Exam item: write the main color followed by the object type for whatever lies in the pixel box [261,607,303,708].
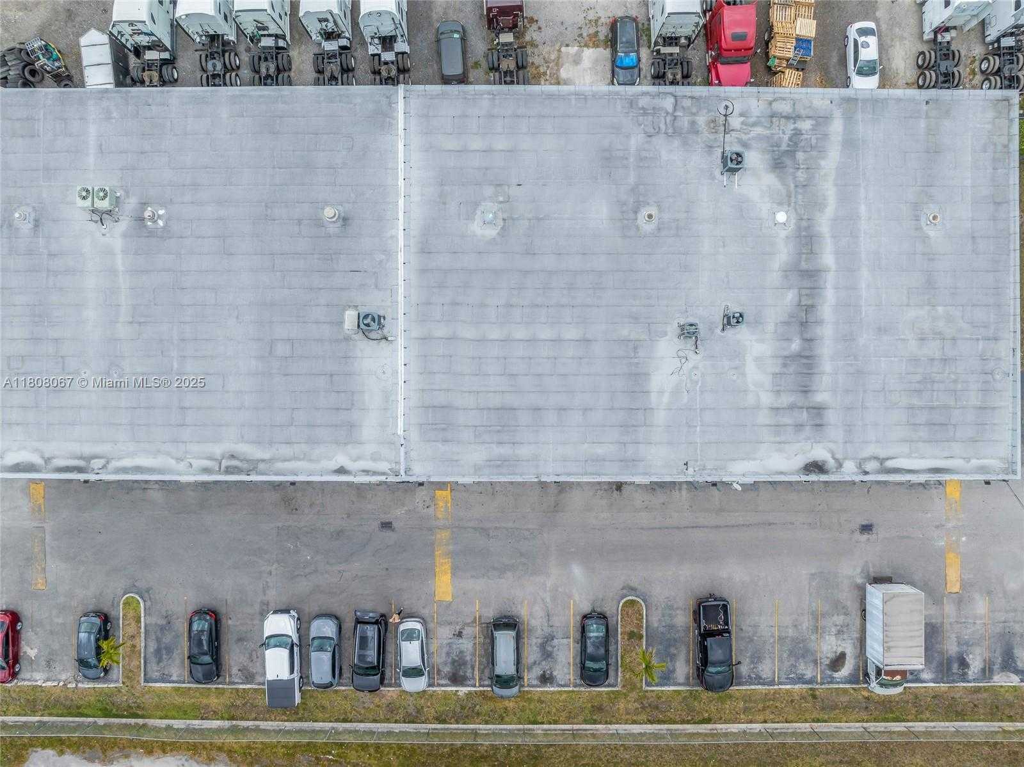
white truck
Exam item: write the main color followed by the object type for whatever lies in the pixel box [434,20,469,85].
gray car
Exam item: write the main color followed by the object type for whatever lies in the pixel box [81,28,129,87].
white trailer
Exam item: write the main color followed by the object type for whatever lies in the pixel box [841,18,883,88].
white car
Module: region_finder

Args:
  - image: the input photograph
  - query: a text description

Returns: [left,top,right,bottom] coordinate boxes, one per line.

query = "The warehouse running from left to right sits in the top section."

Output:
[0,82,1021,483]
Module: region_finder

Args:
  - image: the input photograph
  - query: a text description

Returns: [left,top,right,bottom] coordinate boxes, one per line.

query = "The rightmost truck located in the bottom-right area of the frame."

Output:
[860,571,925,693]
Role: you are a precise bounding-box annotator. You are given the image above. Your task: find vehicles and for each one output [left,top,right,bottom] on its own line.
[914,0,993,88]
[607,13,643,86]
[184,607,224,682]
[301,0,355,85]
[696,586,737,691]
[234,0,294,86]
[578,610,613,686]
[73,610,113,678]
[707,0,763,87]
[177,0,242,86]
[306,613,343,689]
[106,0,179,86]
[860,571,925,693]
[360,0,410,85]
[488,0,528,86]
[434,20,469,85]
[487,613,523,697]
[0,610,26,684]
[261,607,303,708]
[841,18,883,88]
[395,614,431,692]
[349,614,387,696]
[651,0,704,87]
[976,0,1024,94]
